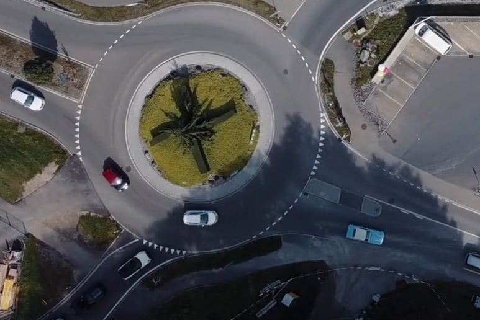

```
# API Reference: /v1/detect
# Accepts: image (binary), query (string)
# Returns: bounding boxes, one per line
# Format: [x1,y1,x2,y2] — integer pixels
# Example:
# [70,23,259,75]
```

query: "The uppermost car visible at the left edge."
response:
[8,86,47,111]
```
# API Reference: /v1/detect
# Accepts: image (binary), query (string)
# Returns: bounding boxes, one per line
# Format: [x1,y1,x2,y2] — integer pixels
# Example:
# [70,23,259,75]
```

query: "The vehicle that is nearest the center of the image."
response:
[183,209,219,227]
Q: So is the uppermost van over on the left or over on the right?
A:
right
